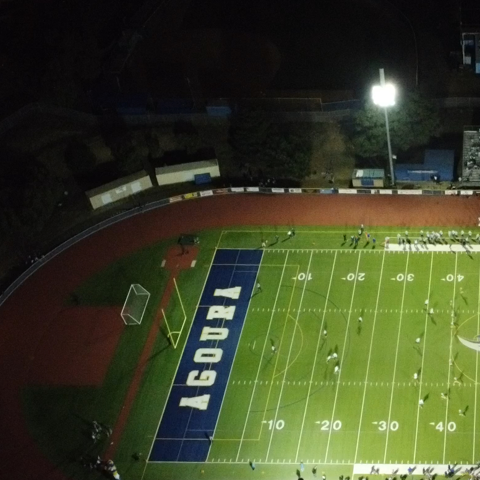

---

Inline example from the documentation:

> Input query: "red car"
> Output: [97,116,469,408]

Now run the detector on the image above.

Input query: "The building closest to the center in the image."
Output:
[153,155,220,186]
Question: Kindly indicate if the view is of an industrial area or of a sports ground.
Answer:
sports ground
